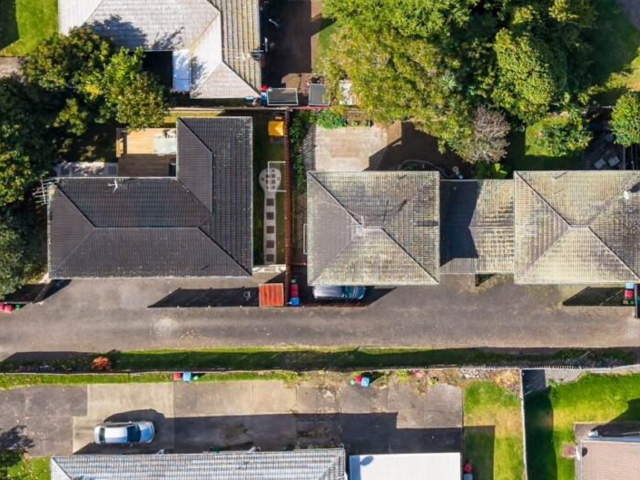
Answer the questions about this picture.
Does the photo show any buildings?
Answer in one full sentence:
Yes, the frame does contain a building.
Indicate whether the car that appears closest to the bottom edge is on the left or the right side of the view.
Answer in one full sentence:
It is on the left.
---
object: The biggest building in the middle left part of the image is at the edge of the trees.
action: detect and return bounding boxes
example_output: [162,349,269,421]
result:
[46,115,255,281]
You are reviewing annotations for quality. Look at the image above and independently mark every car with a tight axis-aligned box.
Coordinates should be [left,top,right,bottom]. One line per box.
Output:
[89,421,154,450]
[311,288,368,304]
